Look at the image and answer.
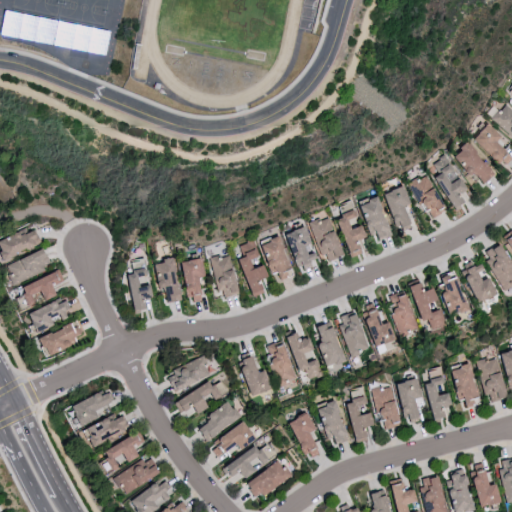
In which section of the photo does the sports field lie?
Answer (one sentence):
You can find the sports field in the top area of the picture.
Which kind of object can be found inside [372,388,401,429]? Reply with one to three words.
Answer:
house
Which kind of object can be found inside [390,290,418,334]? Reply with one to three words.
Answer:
house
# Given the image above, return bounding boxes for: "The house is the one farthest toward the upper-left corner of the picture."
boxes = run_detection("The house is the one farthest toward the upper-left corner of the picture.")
[0,228,40,263]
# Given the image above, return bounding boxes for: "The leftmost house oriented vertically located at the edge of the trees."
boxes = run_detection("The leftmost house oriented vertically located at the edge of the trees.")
[128,260,152,314]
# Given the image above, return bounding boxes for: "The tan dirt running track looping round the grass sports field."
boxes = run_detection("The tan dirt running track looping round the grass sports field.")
[144,0,302,108]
